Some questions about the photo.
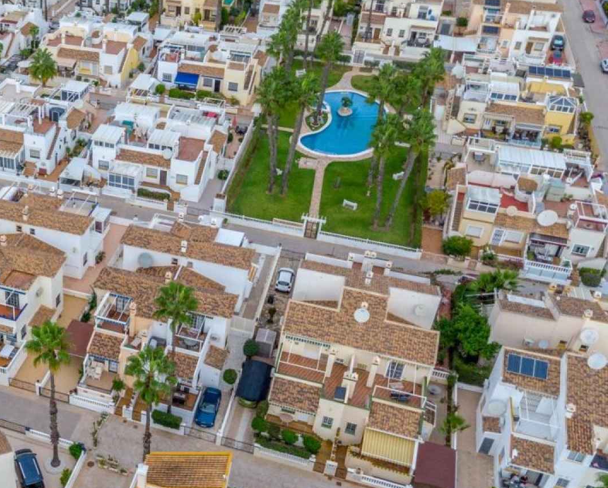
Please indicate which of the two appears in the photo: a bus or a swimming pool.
swimming pool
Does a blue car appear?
Yes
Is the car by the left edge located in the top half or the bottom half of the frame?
bottom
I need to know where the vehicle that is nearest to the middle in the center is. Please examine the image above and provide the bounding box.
[276,264,296,292]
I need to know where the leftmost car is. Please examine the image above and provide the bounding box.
[17,452,46,488]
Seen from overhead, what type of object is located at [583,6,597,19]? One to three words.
vehicle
